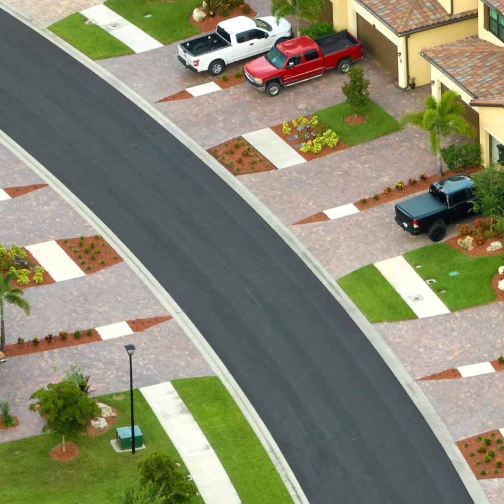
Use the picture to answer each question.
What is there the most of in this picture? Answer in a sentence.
For the most part, this view shows paved ground.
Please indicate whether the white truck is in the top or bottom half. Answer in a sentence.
Seen from above, the white truck lies in the top half of the view.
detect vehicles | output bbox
[394,175,504,241]
[176,16,294,75]
[239,30,366,97]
